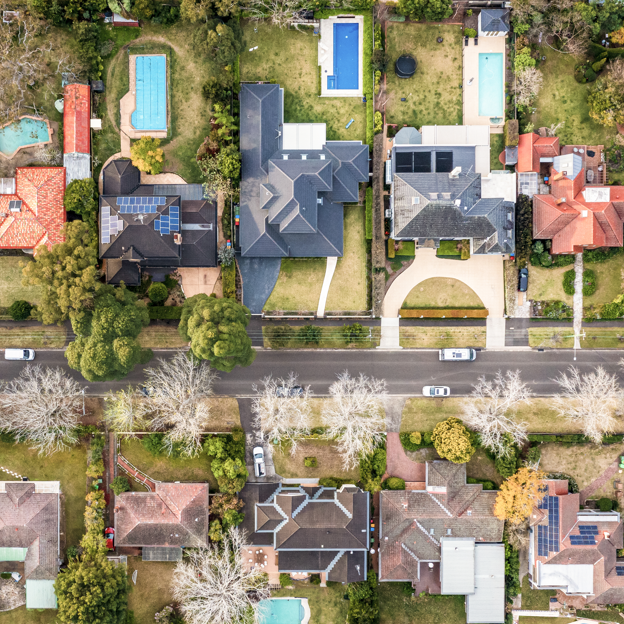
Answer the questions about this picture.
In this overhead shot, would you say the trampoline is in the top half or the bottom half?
top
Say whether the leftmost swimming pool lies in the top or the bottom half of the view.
top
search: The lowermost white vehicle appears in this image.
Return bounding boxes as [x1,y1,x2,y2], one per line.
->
[253,445,266,478]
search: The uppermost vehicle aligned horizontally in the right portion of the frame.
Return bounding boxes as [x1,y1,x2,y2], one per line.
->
[438,348,477,361]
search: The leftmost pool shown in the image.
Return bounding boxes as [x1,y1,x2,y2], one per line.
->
[0,114,53,160]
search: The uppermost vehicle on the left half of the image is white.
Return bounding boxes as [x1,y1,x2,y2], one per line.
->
[3,348,35,360]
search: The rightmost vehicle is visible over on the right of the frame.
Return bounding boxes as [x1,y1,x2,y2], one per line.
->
[516,268,530,292]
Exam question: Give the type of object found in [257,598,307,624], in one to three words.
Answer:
swimming pool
